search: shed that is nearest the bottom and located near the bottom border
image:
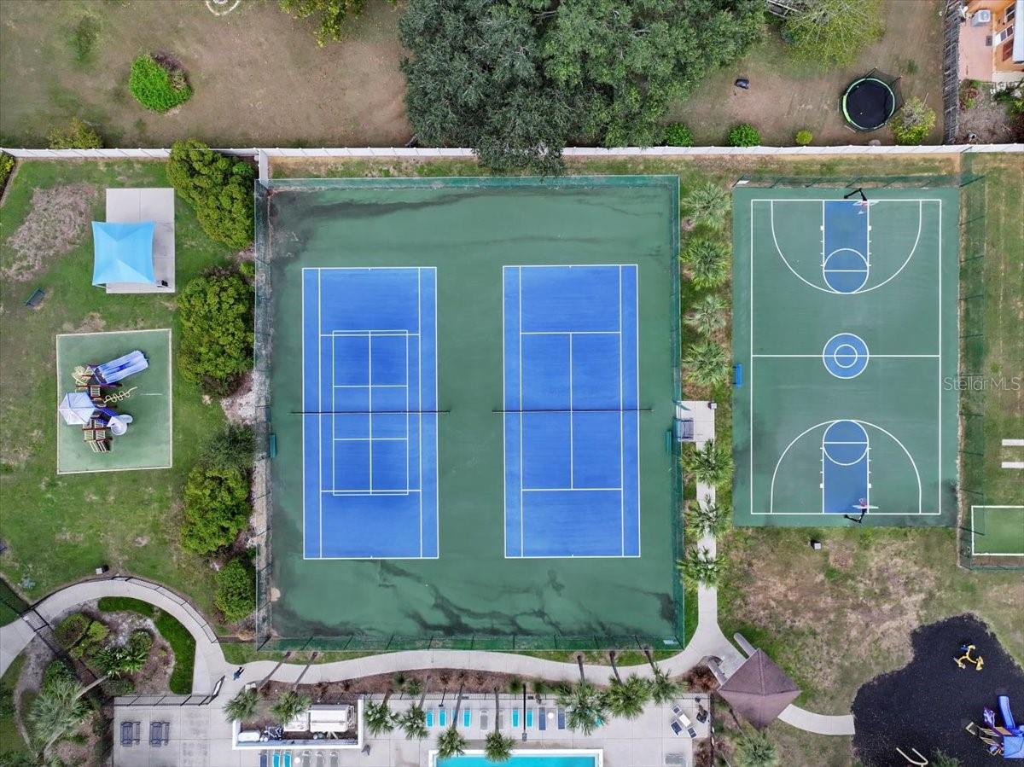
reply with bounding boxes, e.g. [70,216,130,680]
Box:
[308,705,349,732]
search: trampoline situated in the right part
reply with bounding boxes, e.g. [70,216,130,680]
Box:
[838,67,905,133]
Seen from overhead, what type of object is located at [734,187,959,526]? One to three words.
basketball court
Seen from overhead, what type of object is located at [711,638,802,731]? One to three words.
building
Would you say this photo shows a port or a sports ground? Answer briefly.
sports ground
